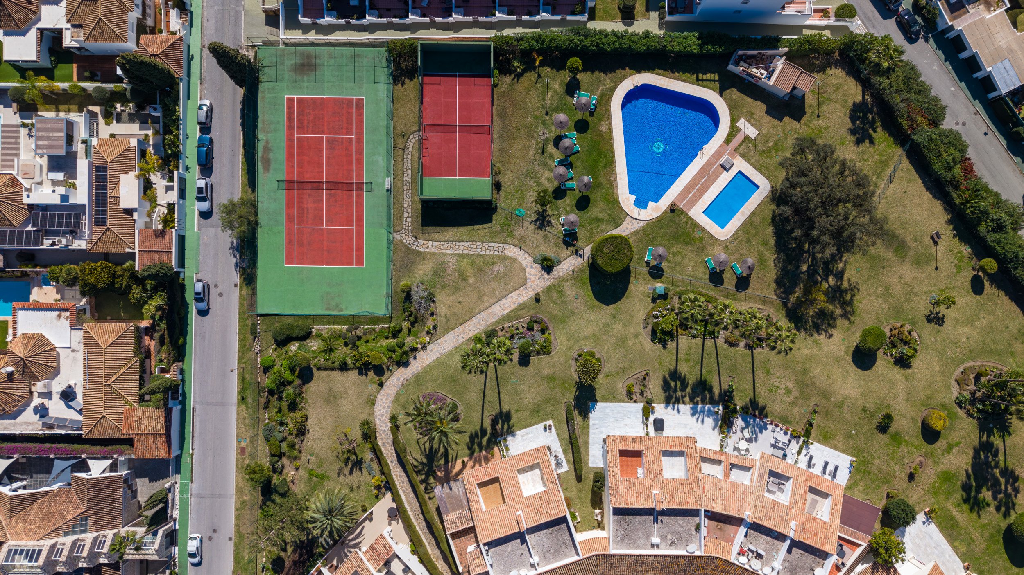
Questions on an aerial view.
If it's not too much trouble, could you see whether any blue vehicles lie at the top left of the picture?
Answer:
Yes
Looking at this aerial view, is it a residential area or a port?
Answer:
residential area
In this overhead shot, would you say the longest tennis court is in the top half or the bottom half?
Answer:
top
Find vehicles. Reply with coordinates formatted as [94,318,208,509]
[196,100,213,128]
[187,534,204,563]
[196,136,214,167]
[195,179,213,212]
[896,8,922,36]
[193,281,211,310]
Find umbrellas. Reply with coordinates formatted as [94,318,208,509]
[575,174,592,191]
[551,166,568,183]
[712,254,729,270]
[558,139,574,155]
[740,258,757,275]
[574,97,591,114]
[552,114,569,130]
[561,212,578,229]
[650,246,667,263]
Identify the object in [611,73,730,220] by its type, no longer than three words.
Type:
swimming pool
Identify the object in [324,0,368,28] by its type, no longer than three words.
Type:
house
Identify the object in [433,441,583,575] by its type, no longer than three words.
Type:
house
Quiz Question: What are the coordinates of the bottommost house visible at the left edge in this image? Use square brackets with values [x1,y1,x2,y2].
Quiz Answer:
[0,466,177,575]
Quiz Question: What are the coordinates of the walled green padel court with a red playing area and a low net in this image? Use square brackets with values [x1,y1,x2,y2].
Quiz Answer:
[418,38,493,201]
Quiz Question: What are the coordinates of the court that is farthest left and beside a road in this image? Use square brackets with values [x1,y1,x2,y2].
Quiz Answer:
[257,46,392,315]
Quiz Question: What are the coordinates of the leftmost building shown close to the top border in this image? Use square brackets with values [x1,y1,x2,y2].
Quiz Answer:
[0,0,192,81]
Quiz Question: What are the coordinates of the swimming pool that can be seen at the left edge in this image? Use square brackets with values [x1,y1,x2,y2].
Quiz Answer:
[0,280,33,316]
